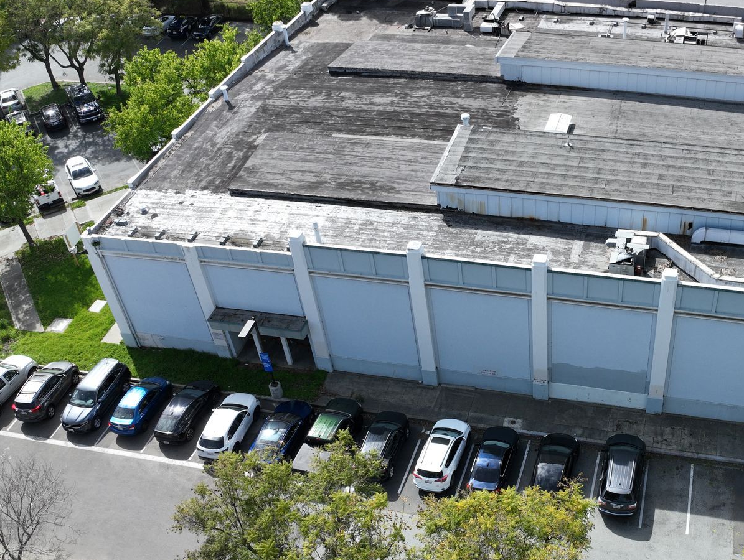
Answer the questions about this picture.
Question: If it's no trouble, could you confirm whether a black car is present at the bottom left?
Yes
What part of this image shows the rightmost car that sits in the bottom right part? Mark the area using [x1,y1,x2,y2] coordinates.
[597,441,644,516]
